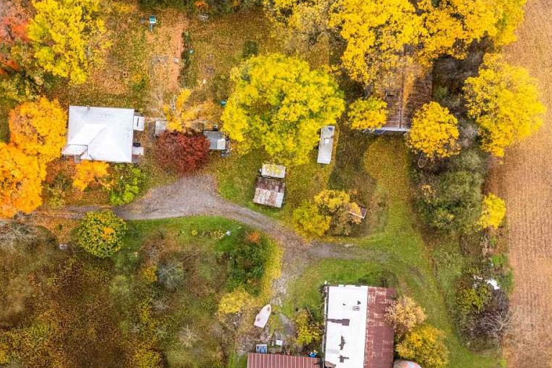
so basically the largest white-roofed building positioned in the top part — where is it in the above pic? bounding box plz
[62,105,144,162]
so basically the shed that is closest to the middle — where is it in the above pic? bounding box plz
[253,178,284,210]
